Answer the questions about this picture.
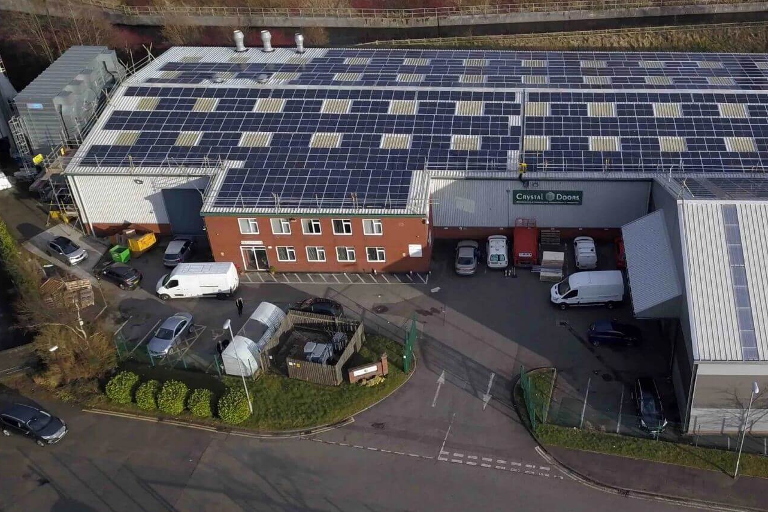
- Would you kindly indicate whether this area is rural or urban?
urban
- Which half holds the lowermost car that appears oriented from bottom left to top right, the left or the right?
left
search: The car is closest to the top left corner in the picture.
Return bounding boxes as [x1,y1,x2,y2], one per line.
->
[39,232,91,264]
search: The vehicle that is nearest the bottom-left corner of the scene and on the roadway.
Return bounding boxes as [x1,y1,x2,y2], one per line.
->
[0,399,67,446]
